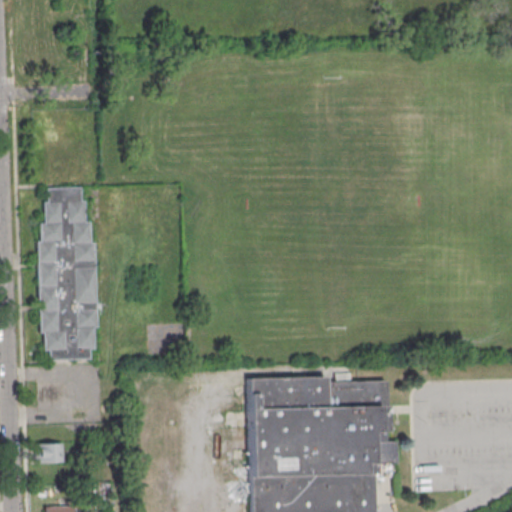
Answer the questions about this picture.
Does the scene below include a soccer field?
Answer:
Yes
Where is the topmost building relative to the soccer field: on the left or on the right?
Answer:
left of it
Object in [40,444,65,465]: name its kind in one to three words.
house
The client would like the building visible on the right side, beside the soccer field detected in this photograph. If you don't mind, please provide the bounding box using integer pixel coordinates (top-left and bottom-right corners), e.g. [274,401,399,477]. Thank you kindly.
[244,378,398,512]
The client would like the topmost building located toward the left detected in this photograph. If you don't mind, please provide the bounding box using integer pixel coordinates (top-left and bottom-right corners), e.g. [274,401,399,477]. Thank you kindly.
[38,186,102,361]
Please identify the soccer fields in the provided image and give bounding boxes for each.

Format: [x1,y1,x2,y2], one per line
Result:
[249,78,415,328]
